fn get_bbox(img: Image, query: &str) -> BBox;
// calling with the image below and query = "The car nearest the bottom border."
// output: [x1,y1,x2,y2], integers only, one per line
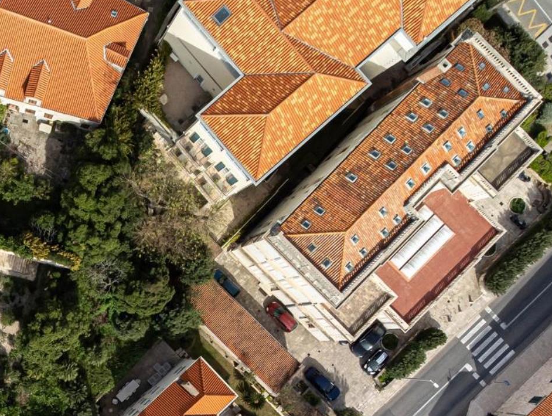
[302,363,339,403]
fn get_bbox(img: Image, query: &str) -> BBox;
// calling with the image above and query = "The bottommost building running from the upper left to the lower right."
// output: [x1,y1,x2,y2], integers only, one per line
[188,280,300,395]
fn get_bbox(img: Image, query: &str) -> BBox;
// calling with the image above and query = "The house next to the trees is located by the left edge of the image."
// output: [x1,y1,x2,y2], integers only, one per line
[0,0,149,139]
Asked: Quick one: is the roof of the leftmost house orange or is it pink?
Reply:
orange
